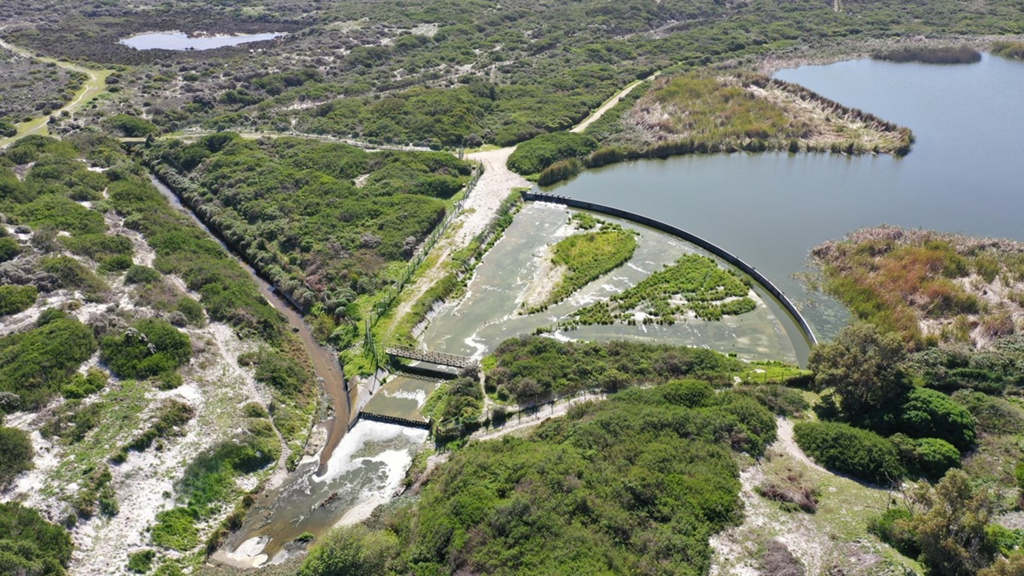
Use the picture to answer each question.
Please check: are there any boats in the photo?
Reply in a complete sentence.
No, I can see no boat in this picture.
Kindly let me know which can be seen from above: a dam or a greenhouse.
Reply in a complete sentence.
It is a dam that can be seen here.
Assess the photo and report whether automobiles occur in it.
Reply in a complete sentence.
No, no automobile is visible in the view.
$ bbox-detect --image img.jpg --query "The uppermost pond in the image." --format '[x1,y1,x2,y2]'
[121,31,285,49]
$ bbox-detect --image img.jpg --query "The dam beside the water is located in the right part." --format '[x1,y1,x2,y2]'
[510,193,828,371]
